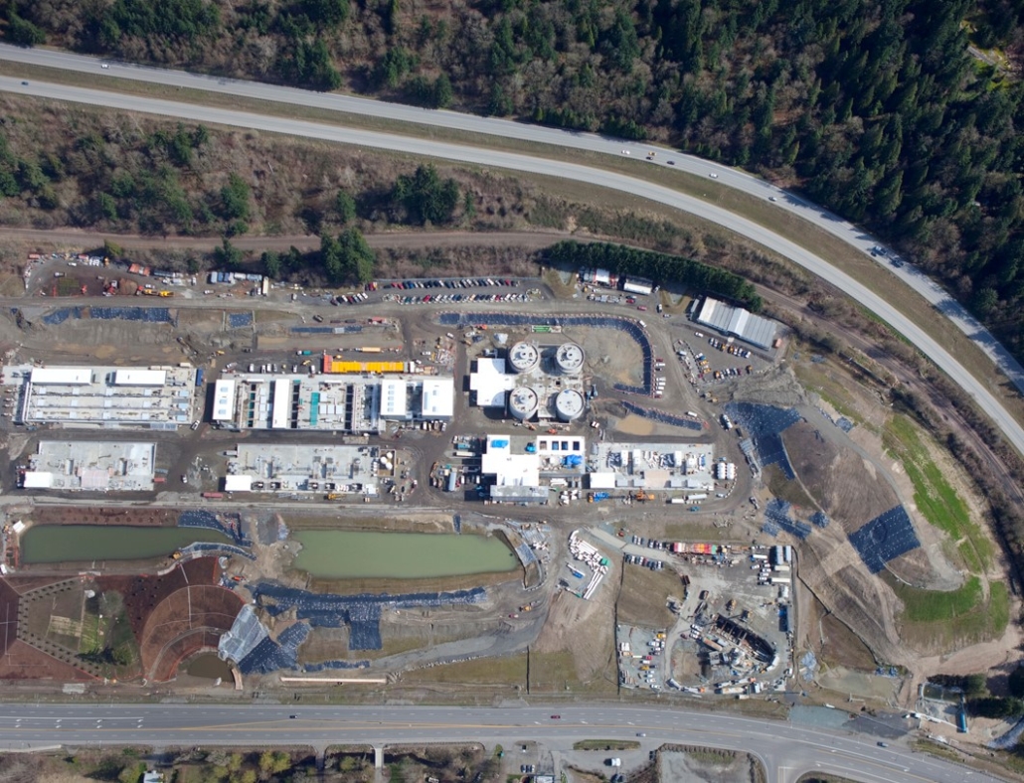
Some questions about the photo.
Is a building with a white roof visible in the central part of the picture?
Yes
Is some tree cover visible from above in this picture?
Yes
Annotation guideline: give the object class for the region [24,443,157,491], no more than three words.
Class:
building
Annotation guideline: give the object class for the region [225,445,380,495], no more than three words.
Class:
building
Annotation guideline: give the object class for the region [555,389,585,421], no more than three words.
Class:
storage tank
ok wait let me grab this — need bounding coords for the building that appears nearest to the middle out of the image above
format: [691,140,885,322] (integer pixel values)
[470,358,514,407]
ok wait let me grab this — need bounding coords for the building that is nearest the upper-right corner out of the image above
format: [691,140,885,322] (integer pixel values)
[696,297,776,352]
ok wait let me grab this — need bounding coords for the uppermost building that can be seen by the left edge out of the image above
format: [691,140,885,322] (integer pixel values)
[22,367,199,430]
